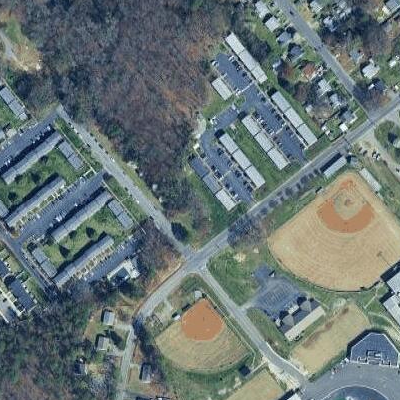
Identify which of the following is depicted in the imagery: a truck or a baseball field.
baseball field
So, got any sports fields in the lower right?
Yes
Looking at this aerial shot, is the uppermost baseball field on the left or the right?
right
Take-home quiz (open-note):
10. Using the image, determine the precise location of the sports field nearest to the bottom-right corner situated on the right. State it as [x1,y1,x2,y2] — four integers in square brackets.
[290,302,369,376]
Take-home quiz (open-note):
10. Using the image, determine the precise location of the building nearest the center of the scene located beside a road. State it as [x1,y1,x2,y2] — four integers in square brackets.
[189,154,235,211]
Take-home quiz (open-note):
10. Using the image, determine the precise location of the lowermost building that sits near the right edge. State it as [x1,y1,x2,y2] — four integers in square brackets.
[350,333,400,368]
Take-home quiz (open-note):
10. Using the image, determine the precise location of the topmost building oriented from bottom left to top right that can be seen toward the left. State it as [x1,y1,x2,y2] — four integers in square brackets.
[1,129,63,183]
